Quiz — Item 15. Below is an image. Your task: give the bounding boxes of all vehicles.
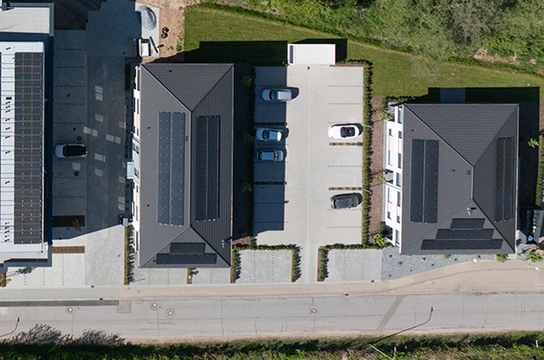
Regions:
[55,143,88,159]
[254,127,283,142]
[326,123,360,140]
[327,191,362,209]
[254,148,285,164]
[259,87,292,103]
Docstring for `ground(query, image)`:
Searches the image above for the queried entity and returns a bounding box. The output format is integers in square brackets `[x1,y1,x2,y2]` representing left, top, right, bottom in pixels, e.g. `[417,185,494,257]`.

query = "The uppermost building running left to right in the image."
[283,43,335,66]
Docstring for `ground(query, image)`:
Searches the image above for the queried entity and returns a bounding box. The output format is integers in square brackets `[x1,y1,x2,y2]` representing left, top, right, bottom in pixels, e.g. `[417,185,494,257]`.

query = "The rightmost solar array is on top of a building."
[491,137,514,222]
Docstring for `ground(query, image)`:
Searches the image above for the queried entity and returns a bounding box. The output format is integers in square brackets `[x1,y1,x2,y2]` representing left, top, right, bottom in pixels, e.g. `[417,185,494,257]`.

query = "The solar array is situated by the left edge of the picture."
[14,53,42,242]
